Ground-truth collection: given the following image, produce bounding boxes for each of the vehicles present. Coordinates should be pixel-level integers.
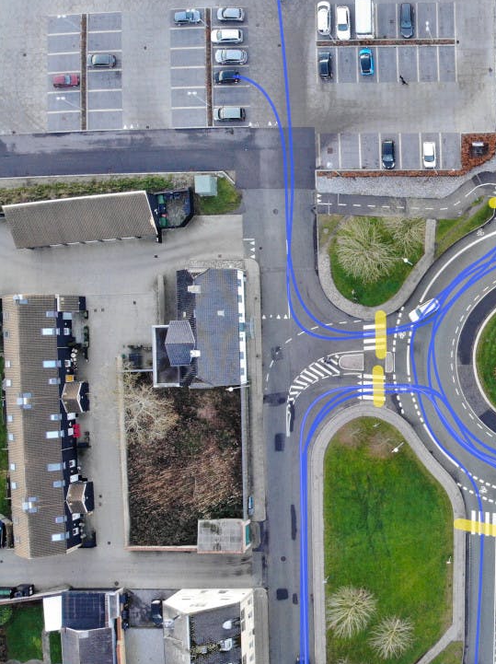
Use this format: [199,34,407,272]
[217,4,246,23]
[216,46,248,65]
[213,105,246,121]
[148,598,165,624]
[211,27,244,44]
[421,141,436,168]
[317,52,333,80]
[398,2,414,39]
[358,48,373,77]
[0,516,10,548]
[215,68,240,84]
[87,52,118,69]
[8,583,37,598]
[315,2,331,36]
[297,656,311,664]
[409,298,439,322]
[53,71,81,89]
[334,5,350,41]
[174,8,202,26]
[380,139,396,170]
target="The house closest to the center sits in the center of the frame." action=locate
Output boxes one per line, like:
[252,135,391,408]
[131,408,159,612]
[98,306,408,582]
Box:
[152,269,254,389]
